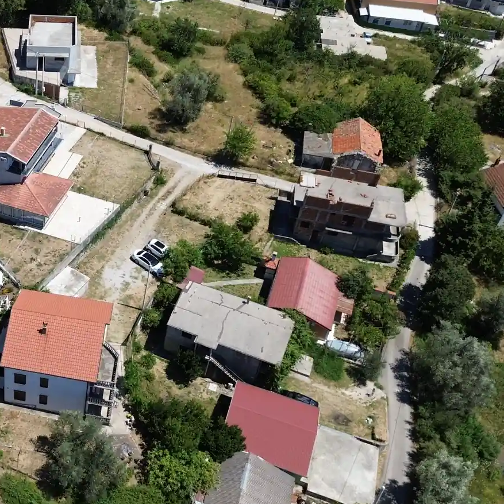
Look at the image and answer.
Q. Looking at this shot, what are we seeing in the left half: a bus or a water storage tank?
water storage tank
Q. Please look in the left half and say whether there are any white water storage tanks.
Yes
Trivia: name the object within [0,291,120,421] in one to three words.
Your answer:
house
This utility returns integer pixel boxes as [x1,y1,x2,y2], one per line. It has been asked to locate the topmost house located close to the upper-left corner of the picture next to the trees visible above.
[23,13,82,72]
